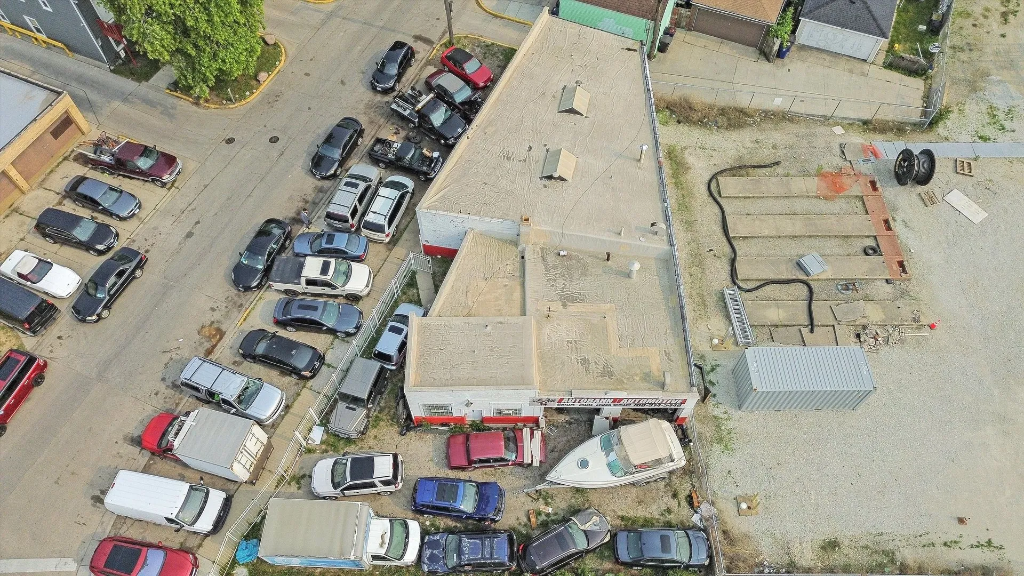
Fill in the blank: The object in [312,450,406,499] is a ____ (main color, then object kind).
white car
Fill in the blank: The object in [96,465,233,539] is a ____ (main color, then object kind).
white van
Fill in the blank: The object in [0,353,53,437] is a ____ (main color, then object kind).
red car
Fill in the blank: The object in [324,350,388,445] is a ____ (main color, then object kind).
gray car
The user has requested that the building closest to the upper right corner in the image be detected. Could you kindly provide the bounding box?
[796,0,897,63]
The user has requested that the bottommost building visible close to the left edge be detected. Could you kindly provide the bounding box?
[0,68,90,211]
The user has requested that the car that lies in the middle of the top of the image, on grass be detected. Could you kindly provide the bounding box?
[440,47,494,92]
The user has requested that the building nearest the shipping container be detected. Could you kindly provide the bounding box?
[405,0,703,432]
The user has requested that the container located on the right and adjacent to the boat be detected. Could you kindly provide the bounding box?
[732,347,876,412]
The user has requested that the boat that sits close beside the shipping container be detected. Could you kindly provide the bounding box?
[545,421,706,492]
